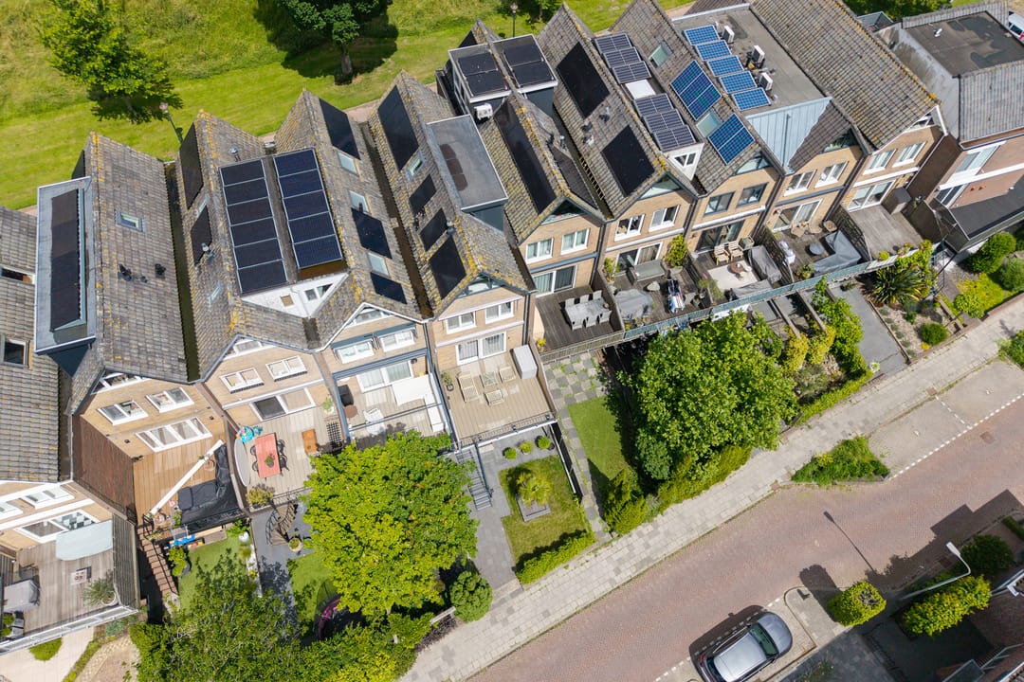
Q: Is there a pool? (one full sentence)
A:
No, the picture doesn't show any pool.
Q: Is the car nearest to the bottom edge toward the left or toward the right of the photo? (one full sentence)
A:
You can find the car nearest to the bottom edge on the right side of the picture.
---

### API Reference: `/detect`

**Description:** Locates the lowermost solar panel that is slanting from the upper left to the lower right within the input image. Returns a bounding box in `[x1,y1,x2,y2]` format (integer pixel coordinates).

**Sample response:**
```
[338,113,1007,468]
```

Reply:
[371,270,406,305]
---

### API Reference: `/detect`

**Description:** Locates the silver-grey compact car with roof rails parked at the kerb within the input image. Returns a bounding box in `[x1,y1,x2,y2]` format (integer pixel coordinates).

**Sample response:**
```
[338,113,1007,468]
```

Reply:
[700,612,790,682]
